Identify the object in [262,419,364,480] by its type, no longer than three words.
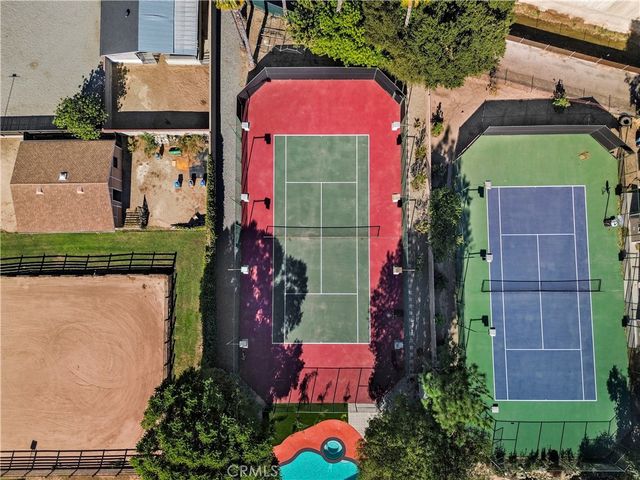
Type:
swimming pool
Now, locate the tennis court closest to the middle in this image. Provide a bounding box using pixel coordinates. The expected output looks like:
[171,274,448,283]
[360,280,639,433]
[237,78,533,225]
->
[241,80,402,403]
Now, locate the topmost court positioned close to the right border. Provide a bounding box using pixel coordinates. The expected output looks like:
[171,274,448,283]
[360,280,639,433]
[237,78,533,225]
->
[458,134,632,454]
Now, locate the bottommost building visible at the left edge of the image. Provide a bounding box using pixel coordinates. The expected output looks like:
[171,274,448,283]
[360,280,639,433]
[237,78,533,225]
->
[14,141,126,231]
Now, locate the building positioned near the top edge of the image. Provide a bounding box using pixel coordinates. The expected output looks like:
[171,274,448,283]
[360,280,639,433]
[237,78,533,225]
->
[106,0,206,65]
